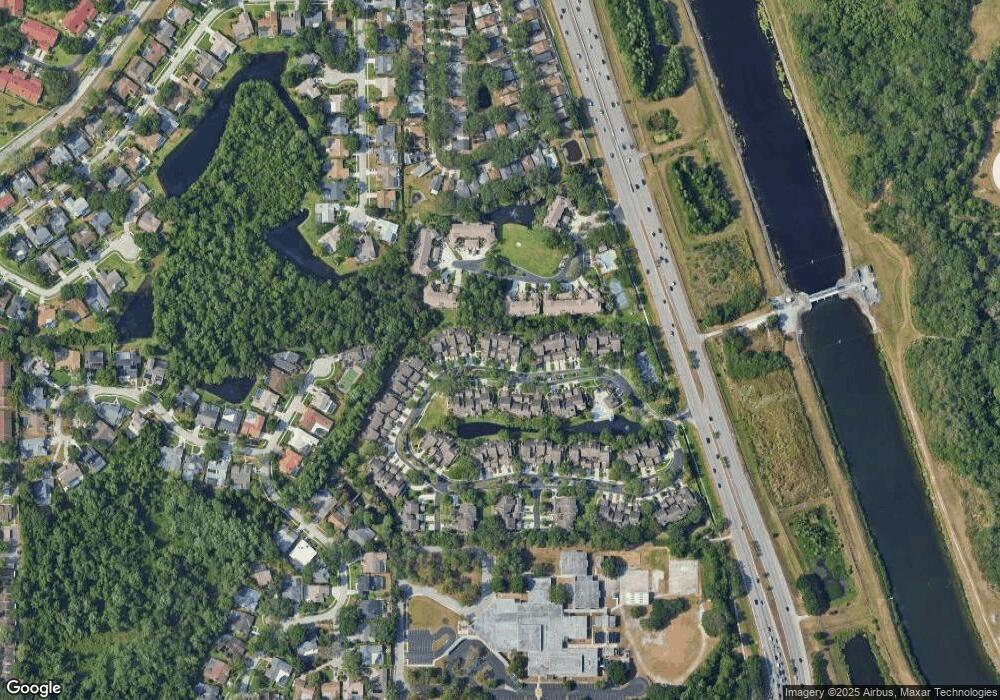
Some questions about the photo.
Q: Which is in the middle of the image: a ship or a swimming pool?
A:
swimming pool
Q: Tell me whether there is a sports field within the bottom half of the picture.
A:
Yes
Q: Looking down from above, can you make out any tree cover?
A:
Yes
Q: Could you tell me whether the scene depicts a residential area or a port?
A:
residential area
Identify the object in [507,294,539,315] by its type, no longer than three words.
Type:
building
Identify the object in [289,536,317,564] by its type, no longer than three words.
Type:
house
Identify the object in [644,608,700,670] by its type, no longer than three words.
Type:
sports field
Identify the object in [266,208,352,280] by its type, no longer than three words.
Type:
pond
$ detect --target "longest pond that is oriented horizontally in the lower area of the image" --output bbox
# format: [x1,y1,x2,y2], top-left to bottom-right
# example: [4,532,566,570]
[456,417,642,439]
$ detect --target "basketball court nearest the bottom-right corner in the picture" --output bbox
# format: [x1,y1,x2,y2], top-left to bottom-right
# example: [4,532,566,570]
[669,559,698,595]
